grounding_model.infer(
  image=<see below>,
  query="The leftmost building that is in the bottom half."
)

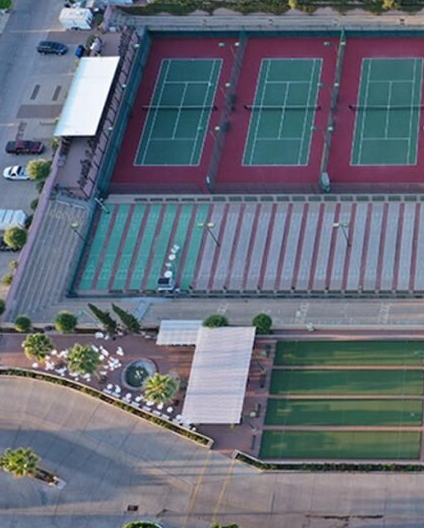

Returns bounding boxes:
[155,321,201,351]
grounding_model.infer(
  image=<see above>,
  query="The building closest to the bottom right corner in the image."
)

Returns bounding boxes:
[181,326,259,428]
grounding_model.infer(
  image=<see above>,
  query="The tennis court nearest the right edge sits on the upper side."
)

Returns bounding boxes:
[327,35,424,186]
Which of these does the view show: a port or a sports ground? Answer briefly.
sports ground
